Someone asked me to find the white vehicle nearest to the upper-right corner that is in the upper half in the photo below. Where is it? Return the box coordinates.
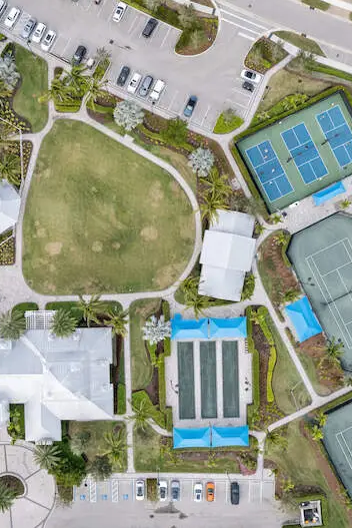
[240,69,261,81]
